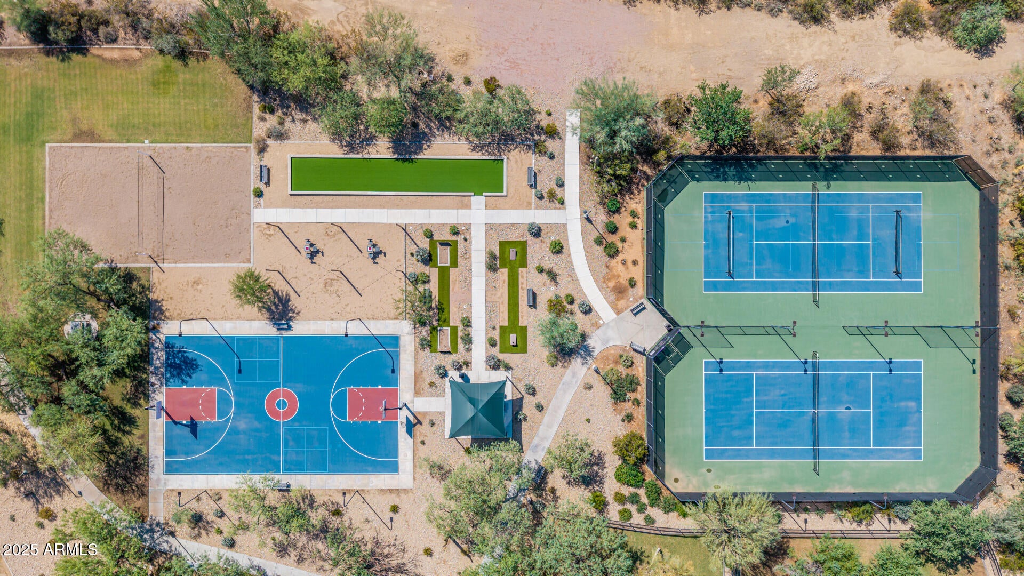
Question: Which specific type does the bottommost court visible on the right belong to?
tennis court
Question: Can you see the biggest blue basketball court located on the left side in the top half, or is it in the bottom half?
bottom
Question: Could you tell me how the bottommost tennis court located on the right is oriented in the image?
horizontally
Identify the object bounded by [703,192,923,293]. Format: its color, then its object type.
blue tennis court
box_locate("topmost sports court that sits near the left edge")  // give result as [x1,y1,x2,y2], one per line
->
[45,144,254,267]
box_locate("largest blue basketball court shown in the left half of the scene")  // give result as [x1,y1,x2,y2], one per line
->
[164,335,399,474]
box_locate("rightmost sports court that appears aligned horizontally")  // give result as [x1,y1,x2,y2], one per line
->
[835,214,959,271]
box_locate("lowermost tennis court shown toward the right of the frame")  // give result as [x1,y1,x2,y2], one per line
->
[703,360,923,461]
